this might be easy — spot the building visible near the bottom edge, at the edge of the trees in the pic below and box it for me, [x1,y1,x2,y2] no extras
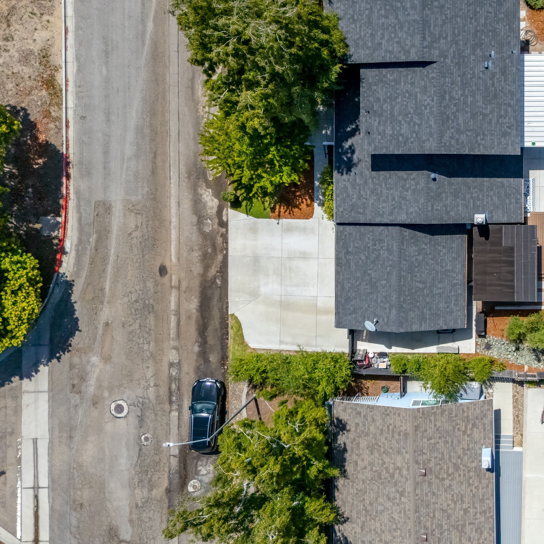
[331,387,495,544]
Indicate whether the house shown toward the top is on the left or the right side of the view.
right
